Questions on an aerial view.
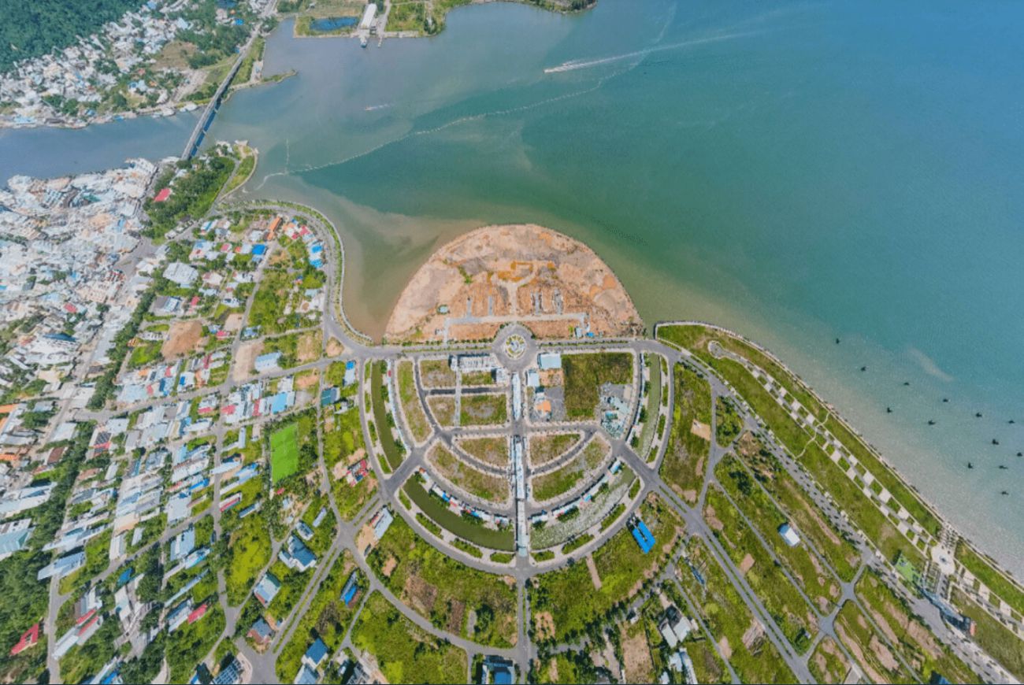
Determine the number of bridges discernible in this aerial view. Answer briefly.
1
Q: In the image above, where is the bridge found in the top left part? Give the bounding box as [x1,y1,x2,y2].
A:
[182,29,261,164]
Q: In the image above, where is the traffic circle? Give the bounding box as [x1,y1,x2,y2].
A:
[492,323,539,369]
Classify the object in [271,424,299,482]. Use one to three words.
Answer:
sports field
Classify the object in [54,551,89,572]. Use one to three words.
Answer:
house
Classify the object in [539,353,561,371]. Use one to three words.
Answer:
building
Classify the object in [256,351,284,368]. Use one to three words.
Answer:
house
